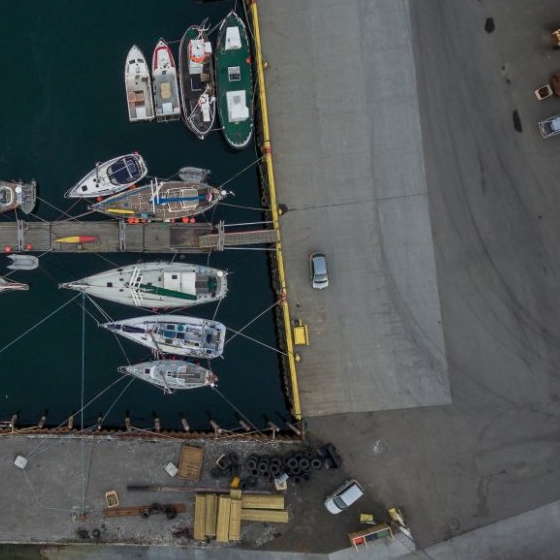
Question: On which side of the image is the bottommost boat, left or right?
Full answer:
The bottommost boat sits on the left side.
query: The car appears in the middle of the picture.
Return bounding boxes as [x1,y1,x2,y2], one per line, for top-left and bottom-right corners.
[308,252,329,289]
